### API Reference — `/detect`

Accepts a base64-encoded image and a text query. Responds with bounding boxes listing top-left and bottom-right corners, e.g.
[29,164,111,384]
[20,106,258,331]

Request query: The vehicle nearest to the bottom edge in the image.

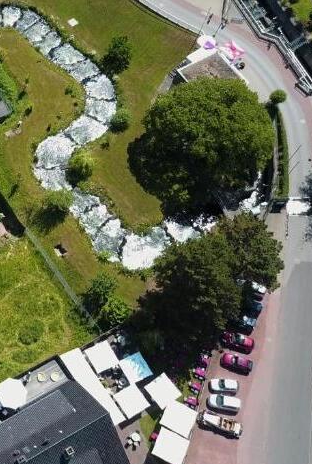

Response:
[201,414,241,437]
